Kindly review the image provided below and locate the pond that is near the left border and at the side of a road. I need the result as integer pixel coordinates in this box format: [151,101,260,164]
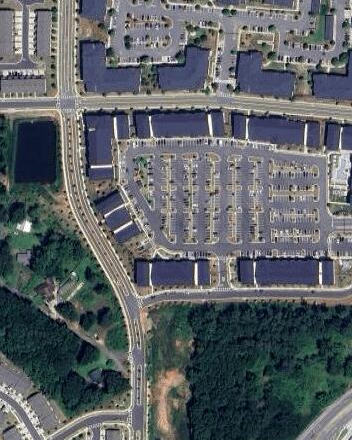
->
[16,121,59,183]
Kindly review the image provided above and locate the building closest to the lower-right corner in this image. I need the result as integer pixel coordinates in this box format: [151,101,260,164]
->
[242,260,334,286]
